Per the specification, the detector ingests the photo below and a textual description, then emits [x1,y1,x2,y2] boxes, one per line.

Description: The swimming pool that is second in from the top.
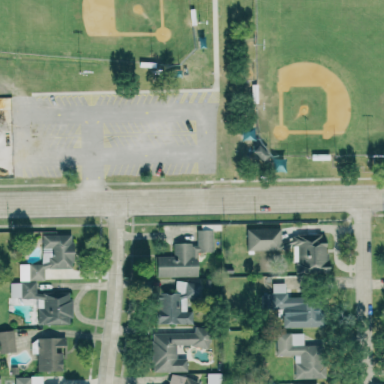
[9,298,38,325]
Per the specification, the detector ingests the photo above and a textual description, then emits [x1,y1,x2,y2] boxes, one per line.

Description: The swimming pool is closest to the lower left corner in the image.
[8,350,34,376]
